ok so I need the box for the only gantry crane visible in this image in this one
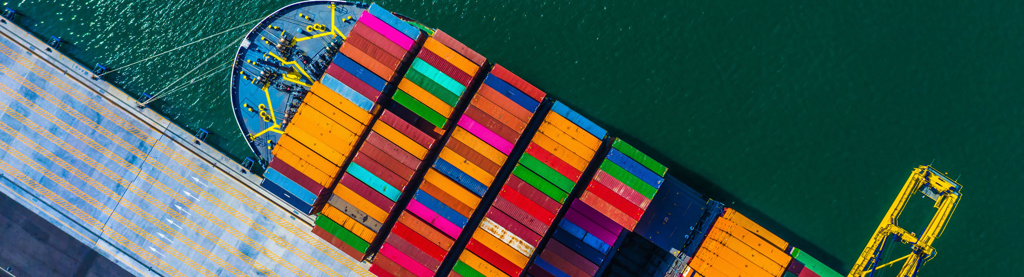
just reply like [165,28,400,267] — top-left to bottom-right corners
[848,161,967,277]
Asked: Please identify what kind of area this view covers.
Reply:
port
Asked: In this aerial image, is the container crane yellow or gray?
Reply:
yellow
